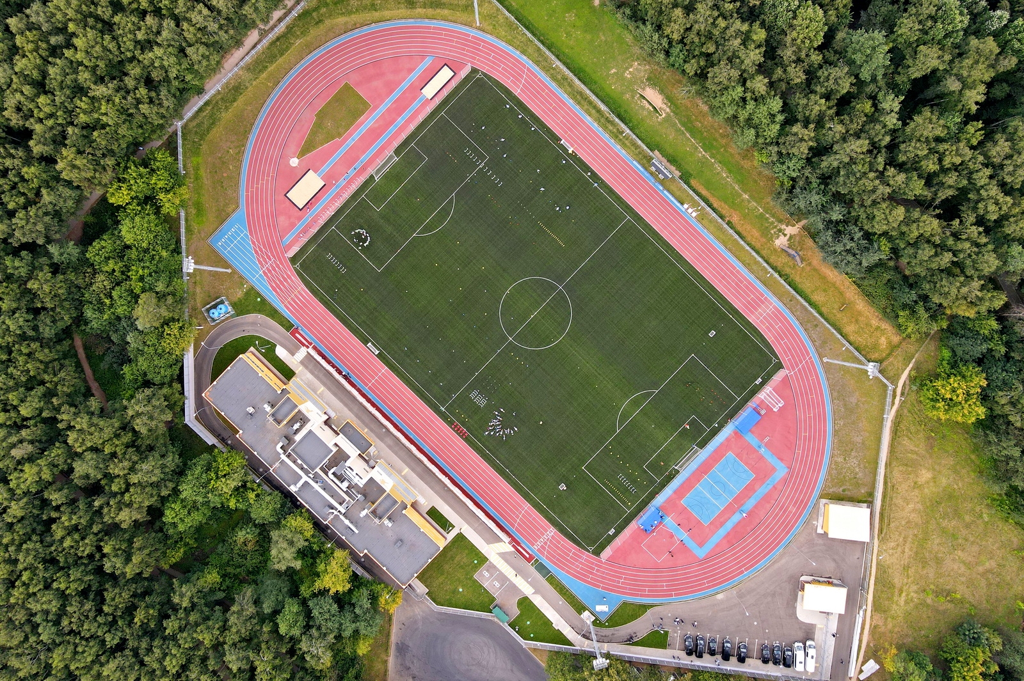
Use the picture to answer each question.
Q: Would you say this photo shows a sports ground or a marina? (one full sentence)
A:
The picture captures a sports ground.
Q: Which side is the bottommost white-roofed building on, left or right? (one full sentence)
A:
You can find the bottommost white-roofed building on the right side of the picture.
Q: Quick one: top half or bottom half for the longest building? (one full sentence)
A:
Seen from above, the longest building lies in the bottom half of the view.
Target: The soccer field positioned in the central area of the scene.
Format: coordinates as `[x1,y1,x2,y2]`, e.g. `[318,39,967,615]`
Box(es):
[288,66,784,558]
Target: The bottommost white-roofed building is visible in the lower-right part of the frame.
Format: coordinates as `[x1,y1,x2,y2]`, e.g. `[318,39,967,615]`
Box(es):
[800,581,852,616]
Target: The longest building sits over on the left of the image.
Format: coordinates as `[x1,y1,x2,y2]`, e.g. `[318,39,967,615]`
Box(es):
[200,352,446,590]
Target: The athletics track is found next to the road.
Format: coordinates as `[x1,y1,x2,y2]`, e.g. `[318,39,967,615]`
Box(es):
[203,17,834,623]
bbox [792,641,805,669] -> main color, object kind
white vehicle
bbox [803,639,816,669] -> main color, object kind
white vehicle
